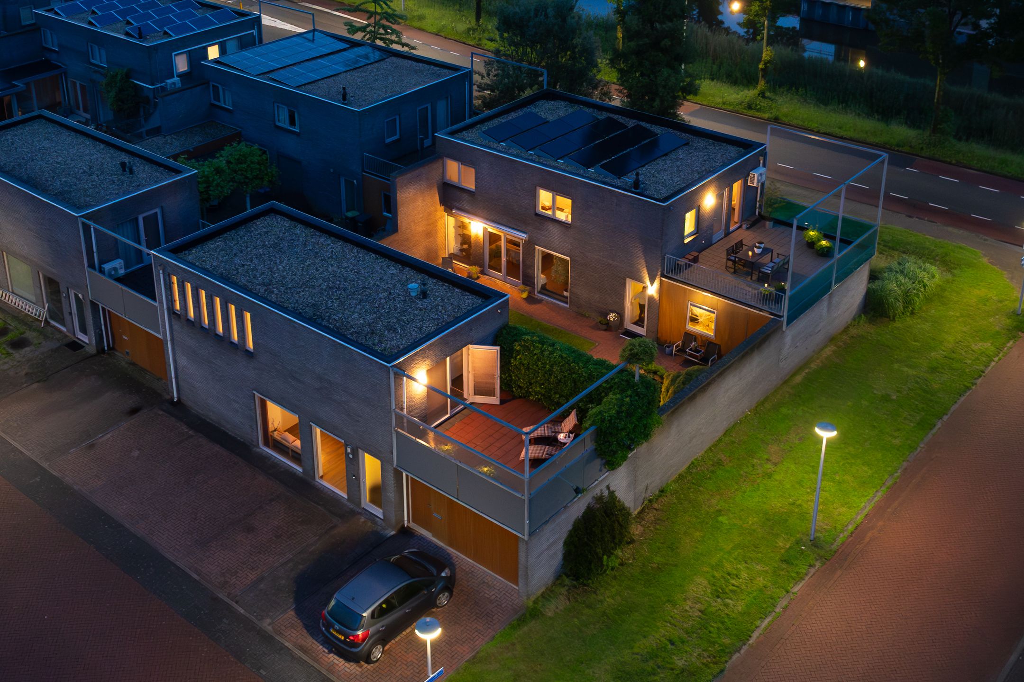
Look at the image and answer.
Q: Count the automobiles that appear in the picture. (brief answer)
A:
1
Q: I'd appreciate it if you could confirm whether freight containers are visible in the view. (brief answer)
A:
No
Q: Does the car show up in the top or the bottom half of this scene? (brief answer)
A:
bottom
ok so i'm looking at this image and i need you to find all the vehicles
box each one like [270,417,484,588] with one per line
[312,555,451,664]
